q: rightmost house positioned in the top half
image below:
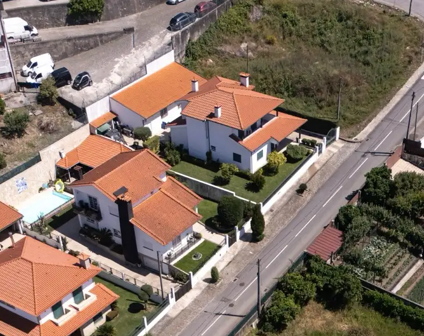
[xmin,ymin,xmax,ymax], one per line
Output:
[165,68,309,174]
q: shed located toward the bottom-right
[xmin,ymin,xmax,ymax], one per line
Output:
[307,225,344,267]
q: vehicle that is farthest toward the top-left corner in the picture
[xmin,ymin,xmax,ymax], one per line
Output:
[0,13,43,39]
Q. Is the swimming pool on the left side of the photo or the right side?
left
